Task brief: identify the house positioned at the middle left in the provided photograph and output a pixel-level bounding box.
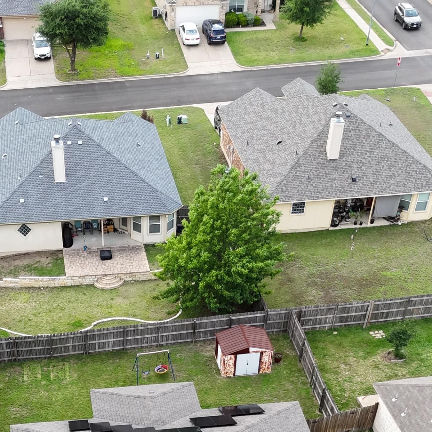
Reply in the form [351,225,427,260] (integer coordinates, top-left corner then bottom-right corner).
[0,107,183,257]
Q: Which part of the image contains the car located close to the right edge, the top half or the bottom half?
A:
top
